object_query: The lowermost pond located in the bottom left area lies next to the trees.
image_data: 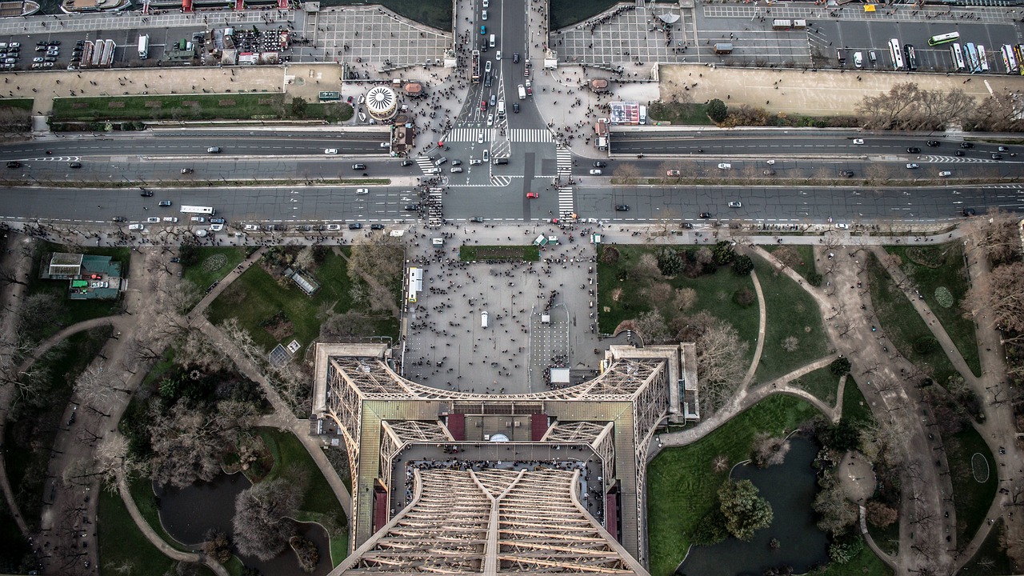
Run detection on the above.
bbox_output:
[155,473,332,576]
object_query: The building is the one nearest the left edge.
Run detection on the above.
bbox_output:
[39,252,127,301]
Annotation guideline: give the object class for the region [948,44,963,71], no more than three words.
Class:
vehicle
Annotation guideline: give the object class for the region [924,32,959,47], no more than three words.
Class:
vehicle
